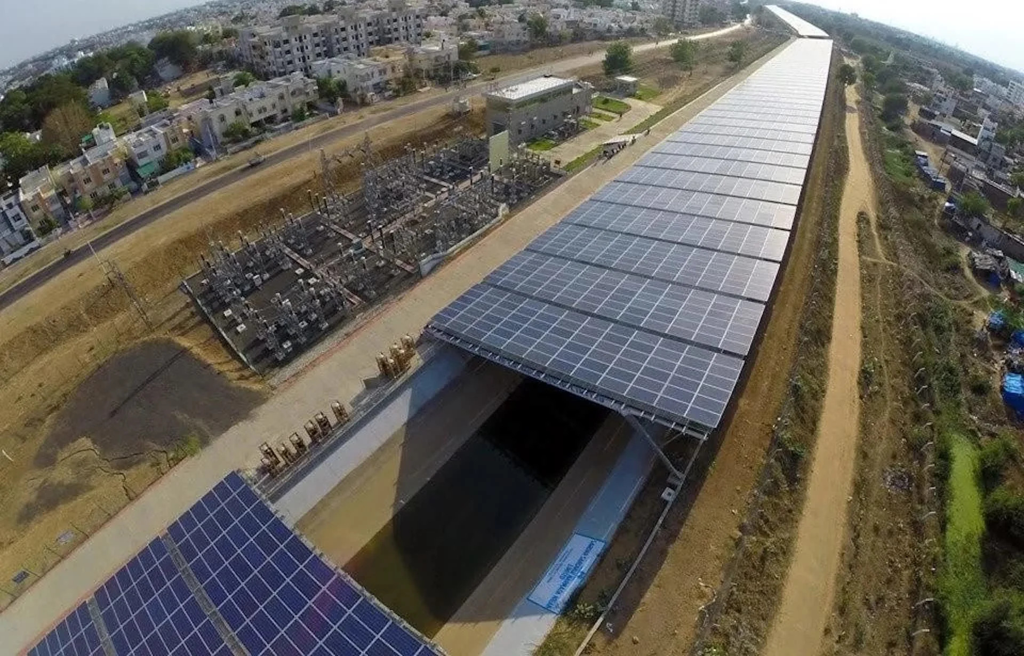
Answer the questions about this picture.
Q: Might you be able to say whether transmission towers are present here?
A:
Yes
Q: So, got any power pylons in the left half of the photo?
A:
Yes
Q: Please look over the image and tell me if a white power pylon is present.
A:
No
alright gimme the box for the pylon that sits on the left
[112,263,157,336]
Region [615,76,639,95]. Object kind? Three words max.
shed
